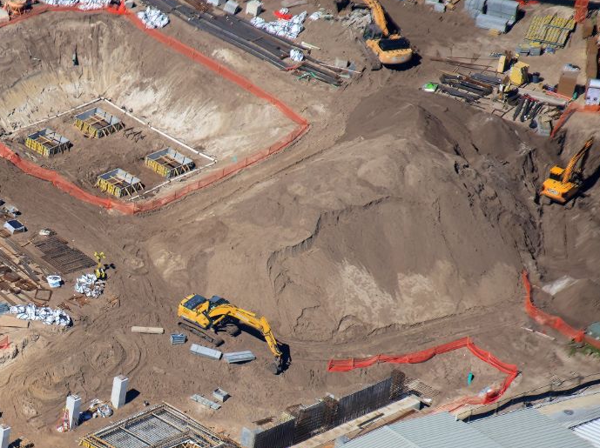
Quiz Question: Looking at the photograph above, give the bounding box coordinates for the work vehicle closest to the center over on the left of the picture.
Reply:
[175,284,288,369]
